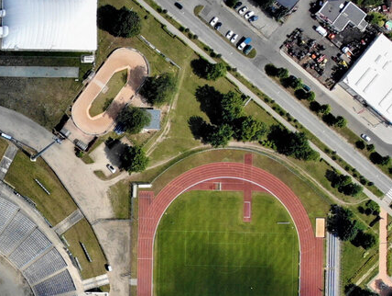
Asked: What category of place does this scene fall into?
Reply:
sports ground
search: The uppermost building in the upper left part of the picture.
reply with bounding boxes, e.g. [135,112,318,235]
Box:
[0,0,101,55]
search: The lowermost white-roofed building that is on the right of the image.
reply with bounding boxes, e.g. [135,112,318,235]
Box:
[331,33,392,133]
